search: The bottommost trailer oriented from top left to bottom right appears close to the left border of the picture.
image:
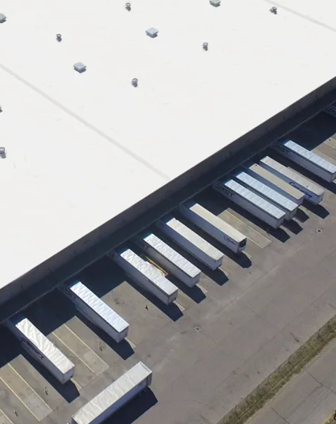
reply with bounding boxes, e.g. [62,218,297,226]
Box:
[1,310,74,386]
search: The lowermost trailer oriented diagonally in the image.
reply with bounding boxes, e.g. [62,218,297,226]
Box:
[71,361,152,424]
